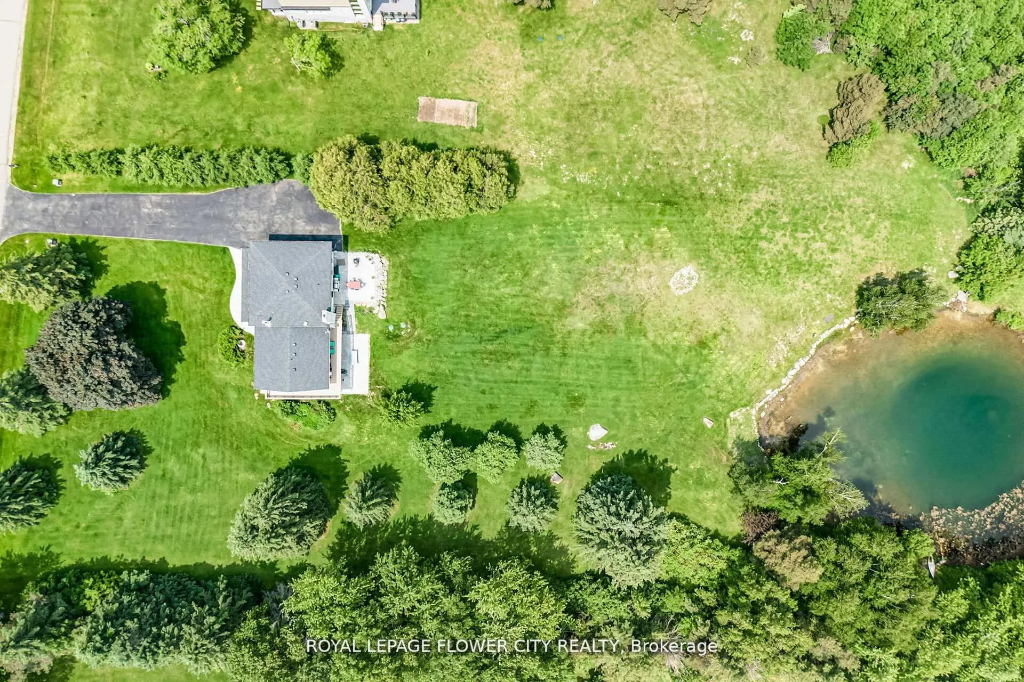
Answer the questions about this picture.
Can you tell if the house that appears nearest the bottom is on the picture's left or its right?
left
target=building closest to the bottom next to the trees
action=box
[242,240,336,393]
